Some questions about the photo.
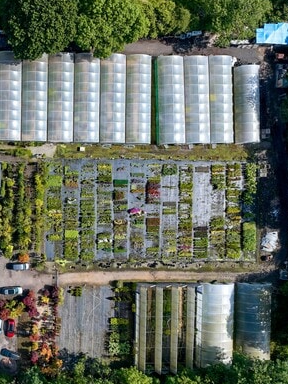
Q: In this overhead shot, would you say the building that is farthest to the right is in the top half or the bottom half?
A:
top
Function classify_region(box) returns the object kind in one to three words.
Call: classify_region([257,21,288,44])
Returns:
building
